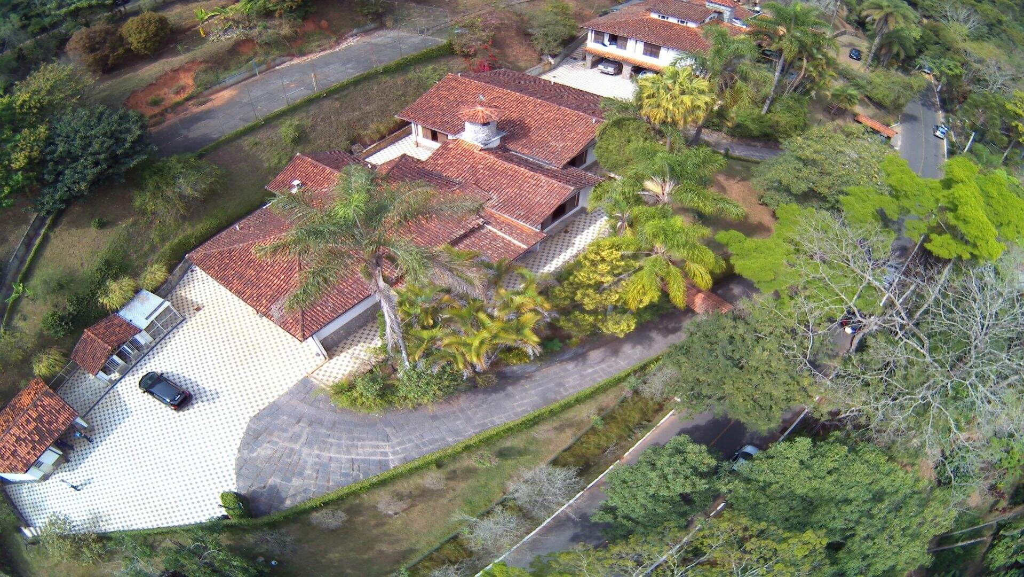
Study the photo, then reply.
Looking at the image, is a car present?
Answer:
Yes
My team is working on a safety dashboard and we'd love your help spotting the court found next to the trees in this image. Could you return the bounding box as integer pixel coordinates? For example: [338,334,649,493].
[125,26,450,162]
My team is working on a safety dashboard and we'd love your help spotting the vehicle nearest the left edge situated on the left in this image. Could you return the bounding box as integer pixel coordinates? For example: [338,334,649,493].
[134,373,186,410]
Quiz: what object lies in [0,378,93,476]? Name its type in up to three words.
shed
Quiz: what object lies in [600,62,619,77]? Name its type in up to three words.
car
